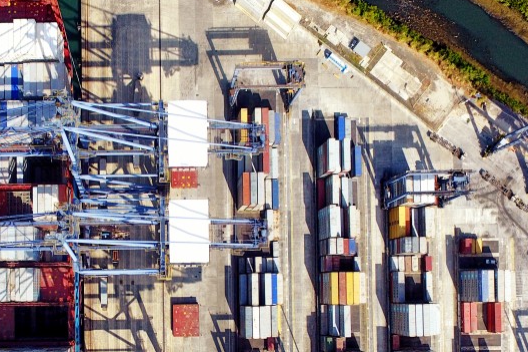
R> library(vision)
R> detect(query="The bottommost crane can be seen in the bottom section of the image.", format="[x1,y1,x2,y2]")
[0,192,268,284]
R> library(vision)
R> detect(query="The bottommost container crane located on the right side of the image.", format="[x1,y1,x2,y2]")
[381,167,480,210]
